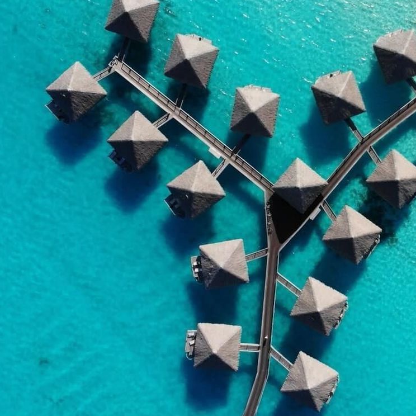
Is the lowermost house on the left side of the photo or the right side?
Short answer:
right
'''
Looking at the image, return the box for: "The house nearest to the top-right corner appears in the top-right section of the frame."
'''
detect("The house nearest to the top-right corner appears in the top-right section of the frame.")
[373,28,416,85]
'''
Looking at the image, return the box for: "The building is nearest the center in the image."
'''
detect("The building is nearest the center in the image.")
[162,160,226,221]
